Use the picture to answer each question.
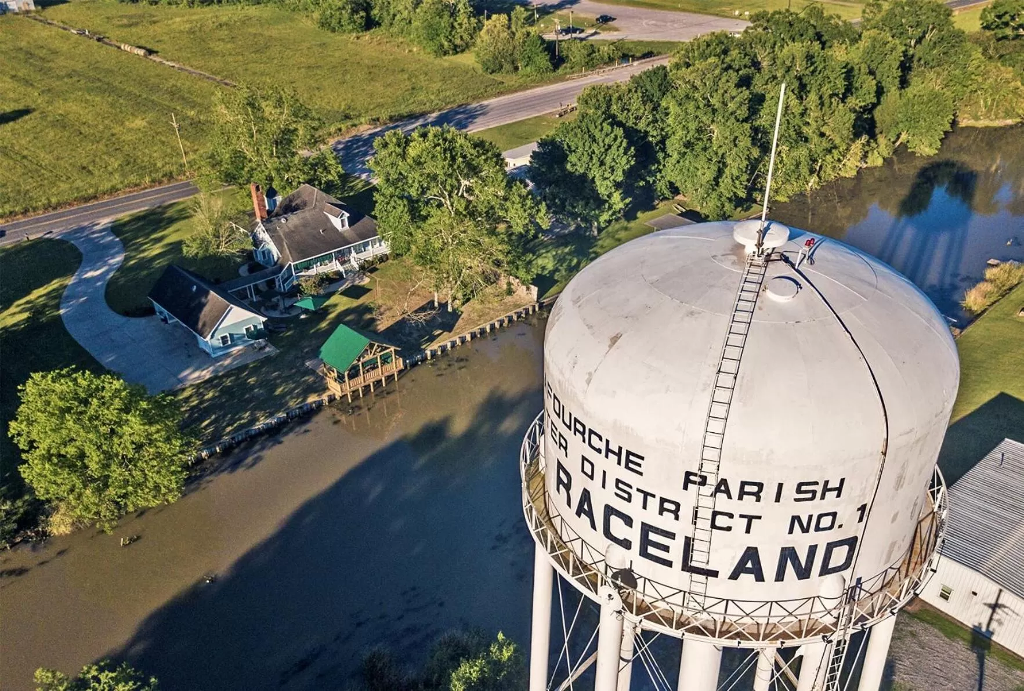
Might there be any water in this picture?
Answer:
Yes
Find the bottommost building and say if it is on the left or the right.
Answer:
right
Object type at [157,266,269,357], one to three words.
building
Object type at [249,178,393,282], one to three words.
house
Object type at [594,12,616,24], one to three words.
vehicle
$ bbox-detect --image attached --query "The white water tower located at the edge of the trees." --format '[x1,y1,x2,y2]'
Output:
[518,83,956,691]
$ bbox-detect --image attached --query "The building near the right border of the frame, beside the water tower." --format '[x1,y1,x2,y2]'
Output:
[918,424,1024,656]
